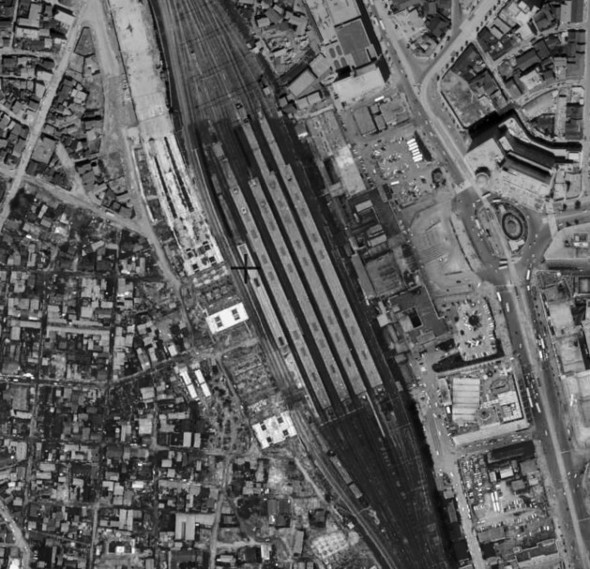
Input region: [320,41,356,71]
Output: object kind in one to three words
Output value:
building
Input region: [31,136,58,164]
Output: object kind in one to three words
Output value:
house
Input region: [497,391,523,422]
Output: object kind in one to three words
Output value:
building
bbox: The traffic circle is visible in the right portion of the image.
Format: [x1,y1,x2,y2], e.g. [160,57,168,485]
[478,202,529,259]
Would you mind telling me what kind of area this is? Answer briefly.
residential area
